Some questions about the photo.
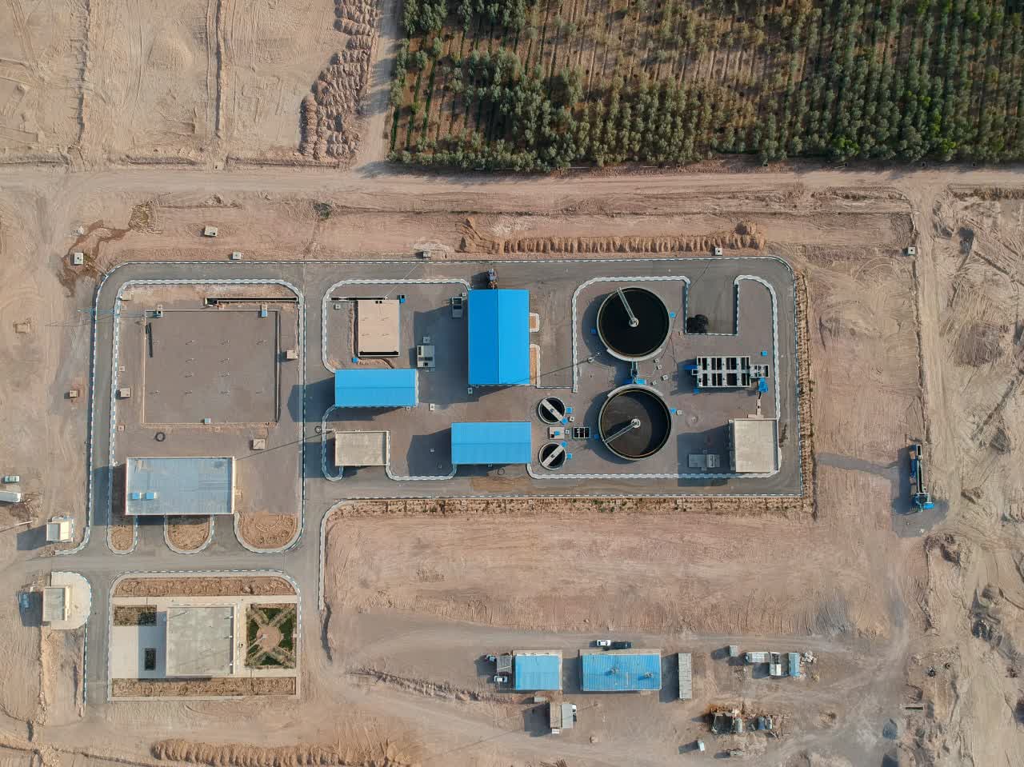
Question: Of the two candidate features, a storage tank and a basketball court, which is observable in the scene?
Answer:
storage tank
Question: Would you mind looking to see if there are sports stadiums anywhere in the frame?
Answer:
No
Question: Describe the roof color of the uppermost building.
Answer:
blue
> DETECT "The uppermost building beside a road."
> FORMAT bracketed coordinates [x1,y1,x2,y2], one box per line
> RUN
[468,288,529,386]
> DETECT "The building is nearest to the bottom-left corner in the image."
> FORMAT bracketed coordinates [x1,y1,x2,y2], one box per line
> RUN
[42,584,75,621]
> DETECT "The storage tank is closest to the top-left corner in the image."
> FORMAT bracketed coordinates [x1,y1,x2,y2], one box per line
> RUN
[358,300,400,359]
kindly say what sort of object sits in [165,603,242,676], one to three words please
building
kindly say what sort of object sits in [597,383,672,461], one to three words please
storage tank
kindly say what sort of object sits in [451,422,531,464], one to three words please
building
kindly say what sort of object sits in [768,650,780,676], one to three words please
vehicle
